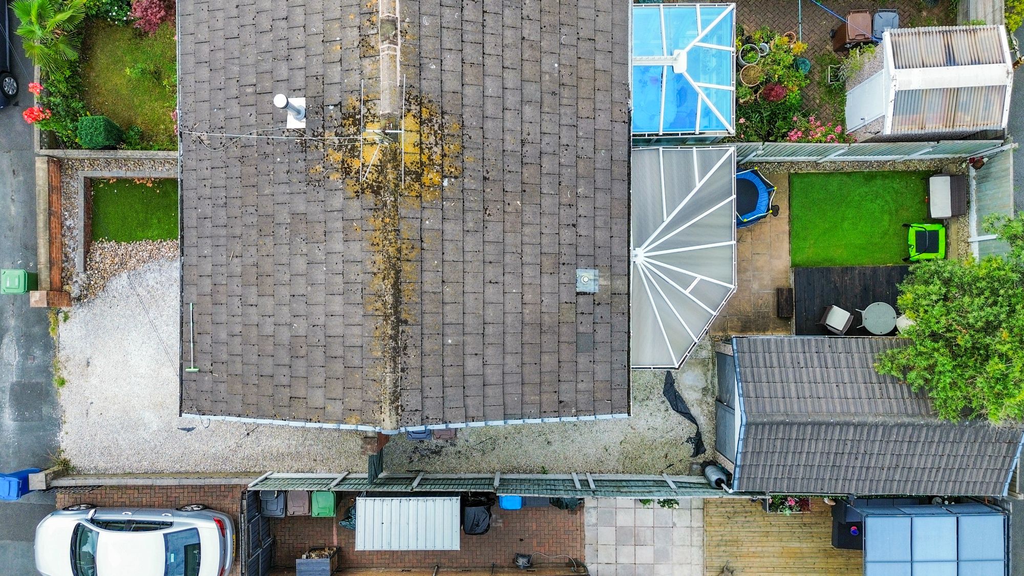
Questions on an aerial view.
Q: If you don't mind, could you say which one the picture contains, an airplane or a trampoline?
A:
trampoline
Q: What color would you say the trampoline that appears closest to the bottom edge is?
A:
green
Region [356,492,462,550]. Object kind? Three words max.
shed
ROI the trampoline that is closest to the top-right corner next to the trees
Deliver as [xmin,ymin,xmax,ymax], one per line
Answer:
[897,223,945,262]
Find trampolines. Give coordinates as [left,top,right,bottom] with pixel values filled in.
[897,223,945,262]
[736,162,782,223]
